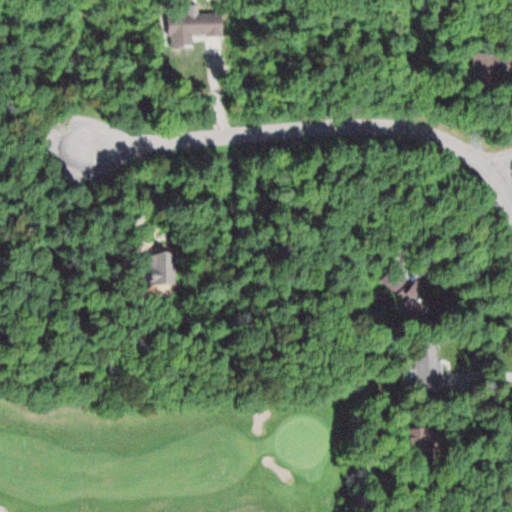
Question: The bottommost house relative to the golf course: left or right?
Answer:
right of it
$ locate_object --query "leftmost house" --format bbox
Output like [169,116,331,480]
[150,252,177,294]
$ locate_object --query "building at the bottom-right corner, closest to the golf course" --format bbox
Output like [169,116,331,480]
[409,428,444,466]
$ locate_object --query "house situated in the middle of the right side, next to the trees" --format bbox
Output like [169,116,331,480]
[378,275,420,304]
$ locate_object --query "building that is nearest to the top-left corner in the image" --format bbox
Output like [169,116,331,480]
[168,8,223,50]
